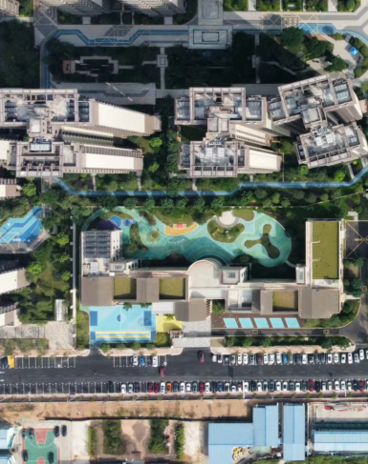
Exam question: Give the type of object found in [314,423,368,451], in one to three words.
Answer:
shed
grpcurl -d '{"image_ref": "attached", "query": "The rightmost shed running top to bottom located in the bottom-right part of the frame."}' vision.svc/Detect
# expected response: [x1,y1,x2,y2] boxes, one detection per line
[283,404,305,462]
